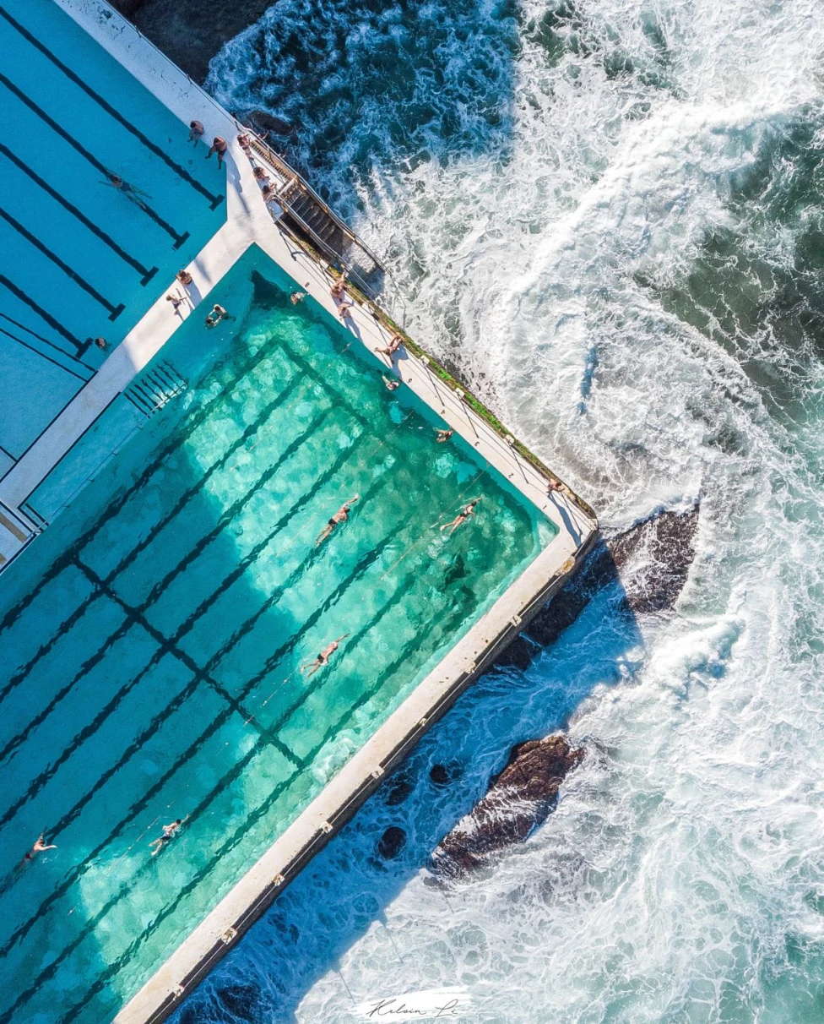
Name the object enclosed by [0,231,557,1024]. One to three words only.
swimming pool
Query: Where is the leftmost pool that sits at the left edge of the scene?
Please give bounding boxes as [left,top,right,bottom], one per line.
[0,0,228,484]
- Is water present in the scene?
Yes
